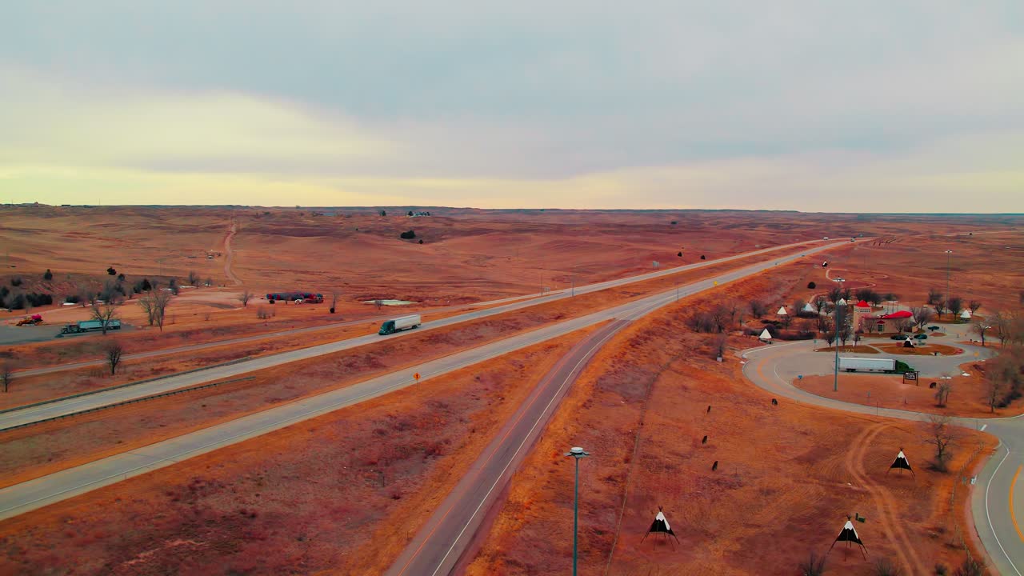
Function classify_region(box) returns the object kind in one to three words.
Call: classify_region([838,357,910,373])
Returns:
vehicle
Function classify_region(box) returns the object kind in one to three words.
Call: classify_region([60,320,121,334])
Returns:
vehicle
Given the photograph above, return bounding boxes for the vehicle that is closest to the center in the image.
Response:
[379,315,420,334]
